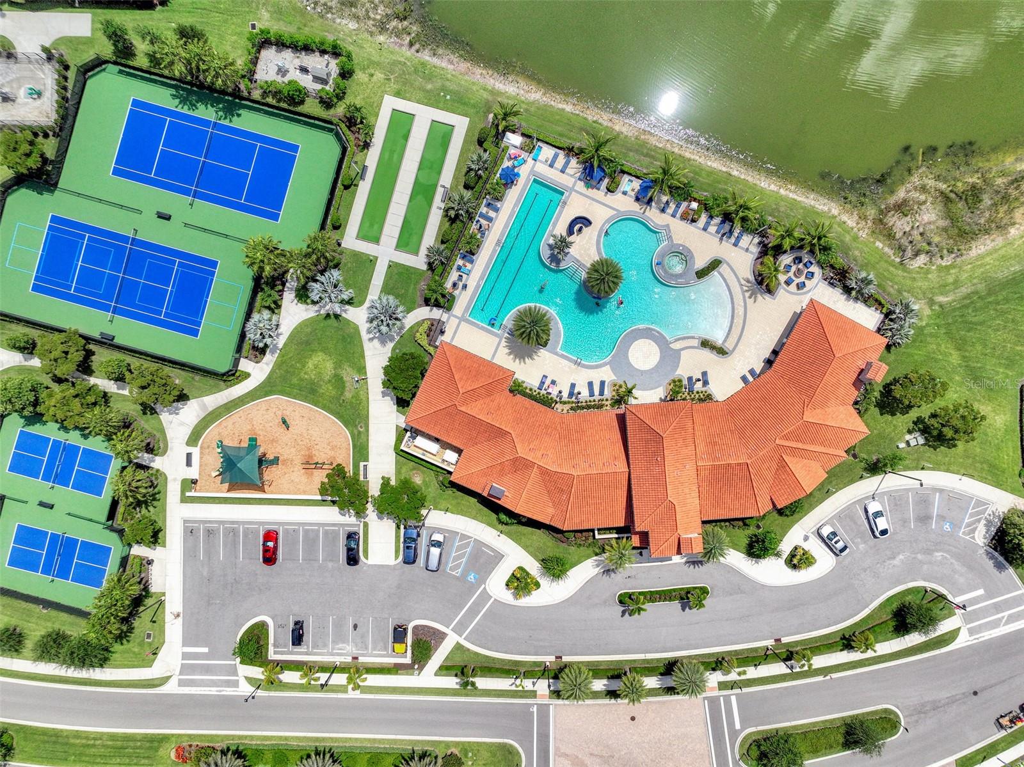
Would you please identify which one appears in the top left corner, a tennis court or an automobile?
tennis court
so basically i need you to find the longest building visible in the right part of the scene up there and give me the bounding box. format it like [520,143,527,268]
[404,298,889,558]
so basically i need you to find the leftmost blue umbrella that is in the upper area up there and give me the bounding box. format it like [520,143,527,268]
[499,166,517,184]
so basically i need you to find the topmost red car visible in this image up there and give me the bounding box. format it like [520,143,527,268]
[259,531,277,566]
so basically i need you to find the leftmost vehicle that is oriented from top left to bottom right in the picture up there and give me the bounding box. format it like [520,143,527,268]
[821,524,849,559]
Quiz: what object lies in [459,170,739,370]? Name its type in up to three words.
swimming pool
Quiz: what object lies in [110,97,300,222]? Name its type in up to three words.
tennis court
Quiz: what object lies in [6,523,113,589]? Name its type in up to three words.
sports court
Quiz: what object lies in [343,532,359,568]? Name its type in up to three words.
car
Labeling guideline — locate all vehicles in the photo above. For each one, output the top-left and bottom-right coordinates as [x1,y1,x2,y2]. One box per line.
[821,524,849,559]
[259,531,277,566]
[391,626,407,657]
[288,622,302,648]
[425,533,444,572]
[867,501,892,538]
[343,532,359,568]
[401,528,418,564]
